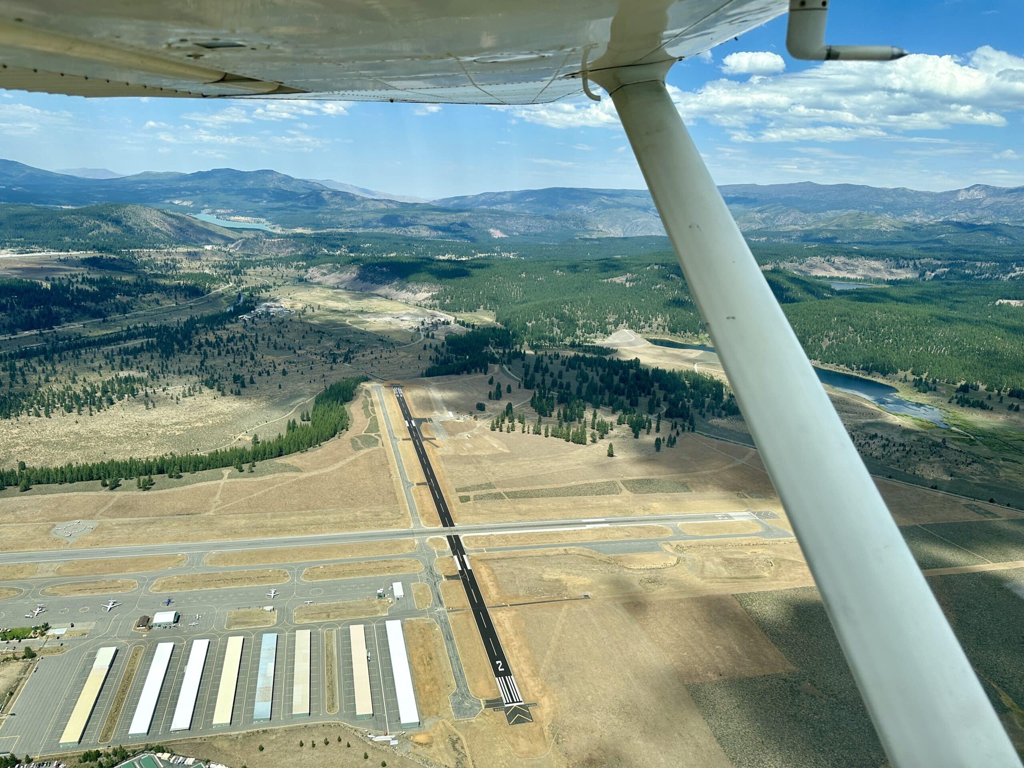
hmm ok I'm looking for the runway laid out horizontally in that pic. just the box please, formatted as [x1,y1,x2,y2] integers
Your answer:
[0,511,759,564]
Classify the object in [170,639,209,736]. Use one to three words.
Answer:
hangar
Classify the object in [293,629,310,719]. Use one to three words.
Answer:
hangar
